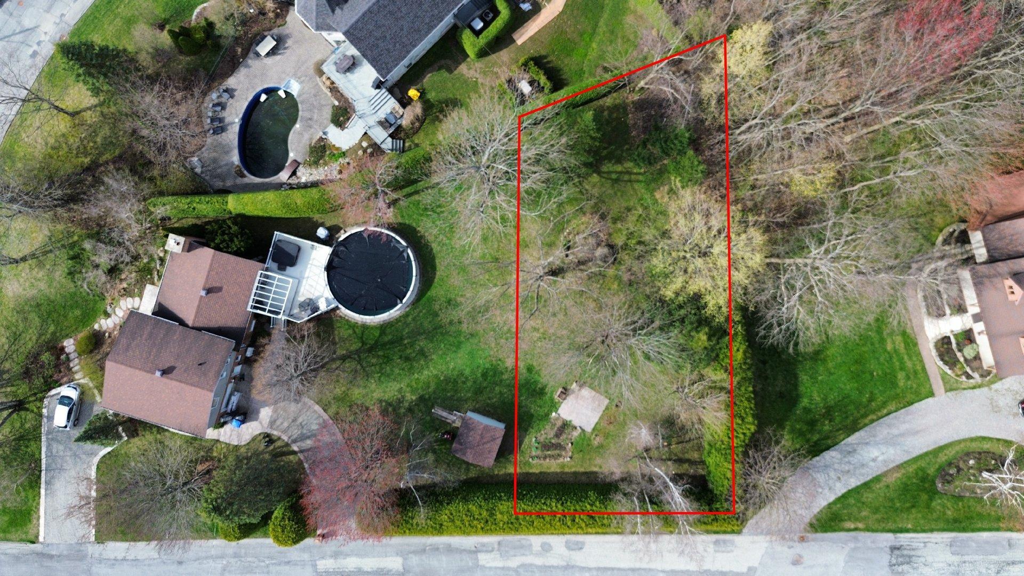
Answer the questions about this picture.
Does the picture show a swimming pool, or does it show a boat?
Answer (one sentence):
I can see a swimming pool in this picture.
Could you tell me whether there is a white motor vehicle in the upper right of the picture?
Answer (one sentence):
No, I see no white motor vehicle in the upper right of the picture.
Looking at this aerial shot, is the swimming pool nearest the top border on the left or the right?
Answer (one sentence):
The swimming pool nearest the top border is on the left side of the image.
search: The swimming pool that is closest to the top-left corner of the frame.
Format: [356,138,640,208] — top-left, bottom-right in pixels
[235,75,304,180]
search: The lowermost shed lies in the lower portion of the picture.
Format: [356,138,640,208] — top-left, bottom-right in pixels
[452,412,505,468]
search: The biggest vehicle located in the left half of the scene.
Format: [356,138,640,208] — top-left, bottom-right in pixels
[48,385,81,431]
